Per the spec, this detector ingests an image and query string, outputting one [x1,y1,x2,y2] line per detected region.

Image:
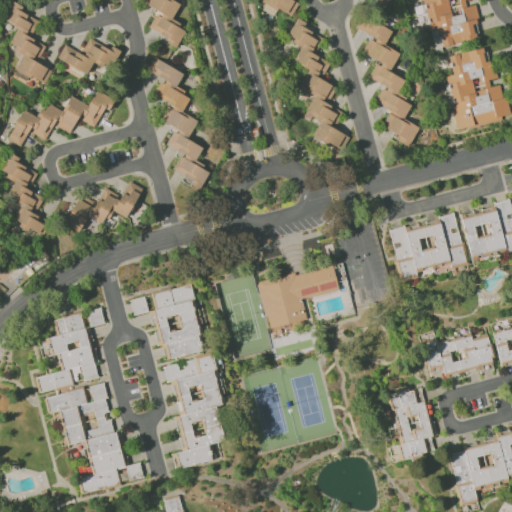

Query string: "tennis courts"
[244,368,300,452]
[280,358,338,440]
[217,276,272,358]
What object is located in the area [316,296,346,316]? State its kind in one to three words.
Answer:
swimming pool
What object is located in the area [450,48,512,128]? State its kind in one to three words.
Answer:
building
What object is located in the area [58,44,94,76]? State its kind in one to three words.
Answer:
house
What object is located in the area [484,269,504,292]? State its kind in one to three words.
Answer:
swimming pool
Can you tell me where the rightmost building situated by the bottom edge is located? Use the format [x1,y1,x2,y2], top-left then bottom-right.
[450,434,512,506]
